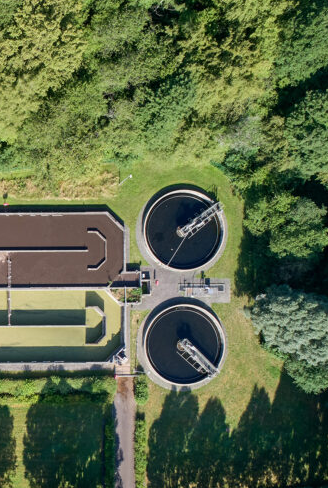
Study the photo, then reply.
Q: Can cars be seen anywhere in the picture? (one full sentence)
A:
No, the photo shows no car.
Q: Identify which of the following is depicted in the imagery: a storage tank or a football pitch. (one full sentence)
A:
The image shows a storage tank.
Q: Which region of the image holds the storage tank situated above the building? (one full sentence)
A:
The storage tank situated above the building sits in the center section of the image.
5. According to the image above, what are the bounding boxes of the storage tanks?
[138,300,228,390]
[137,186,228,277]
